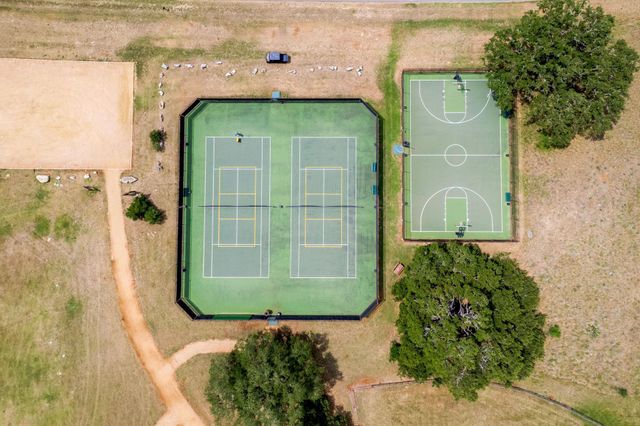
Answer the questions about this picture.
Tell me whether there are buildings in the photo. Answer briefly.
No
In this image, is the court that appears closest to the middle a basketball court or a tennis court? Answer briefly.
tennis court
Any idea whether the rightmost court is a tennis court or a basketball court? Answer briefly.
basketball court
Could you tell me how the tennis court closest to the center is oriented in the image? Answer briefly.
vertically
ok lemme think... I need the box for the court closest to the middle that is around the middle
[290,136,357,279]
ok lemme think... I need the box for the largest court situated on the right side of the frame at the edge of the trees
[404,72,510,239]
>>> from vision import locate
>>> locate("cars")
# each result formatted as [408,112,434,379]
[266,49,289,64]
